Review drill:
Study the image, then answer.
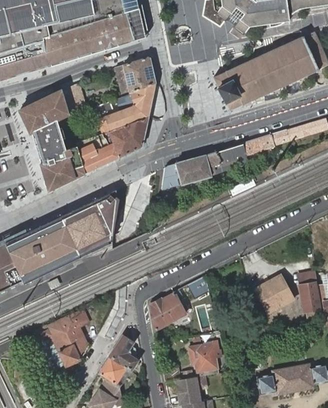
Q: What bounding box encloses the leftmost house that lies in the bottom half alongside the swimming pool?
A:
[148,292,188,332]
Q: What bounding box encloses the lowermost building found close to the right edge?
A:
[260,364,328,396]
